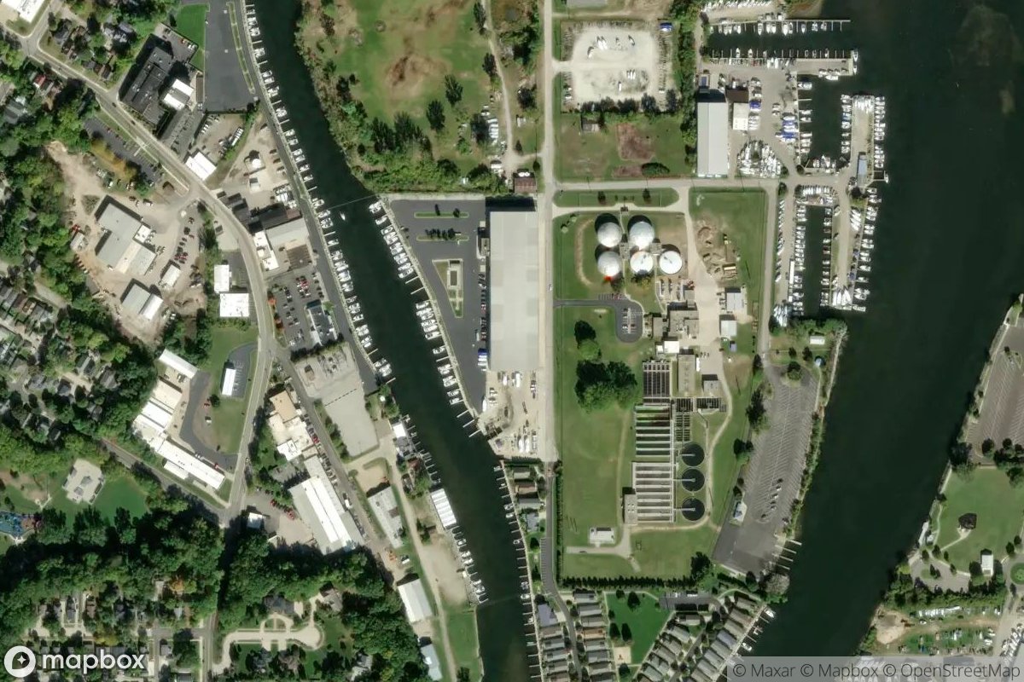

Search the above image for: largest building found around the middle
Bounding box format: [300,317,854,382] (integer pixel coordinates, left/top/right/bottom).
[490,212,538,370]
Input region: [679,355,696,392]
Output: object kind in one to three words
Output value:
building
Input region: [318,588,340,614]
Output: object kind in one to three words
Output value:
house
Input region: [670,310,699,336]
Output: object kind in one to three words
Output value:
building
